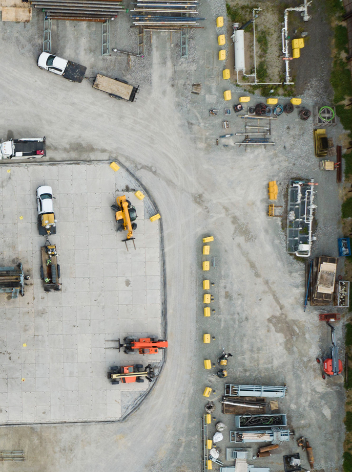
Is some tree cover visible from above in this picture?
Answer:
No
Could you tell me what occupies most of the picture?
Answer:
paved ground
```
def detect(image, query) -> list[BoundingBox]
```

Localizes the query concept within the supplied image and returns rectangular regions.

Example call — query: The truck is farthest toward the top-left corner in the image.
[35,53,86,85]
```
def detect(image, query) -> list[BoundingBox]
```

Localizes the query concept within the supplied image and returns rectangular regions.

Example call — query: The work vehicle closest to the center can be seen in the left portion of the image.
[110,195,136,250]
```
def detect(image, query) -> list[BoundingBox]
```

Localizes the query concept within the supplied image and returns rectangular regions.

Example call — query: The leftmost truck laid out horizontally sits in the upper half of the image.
[0,137,48,159]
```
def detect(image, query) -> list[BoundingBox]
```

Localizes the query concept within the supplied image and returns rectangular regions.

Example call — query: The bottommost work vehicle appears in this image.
[105,366,158,384]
